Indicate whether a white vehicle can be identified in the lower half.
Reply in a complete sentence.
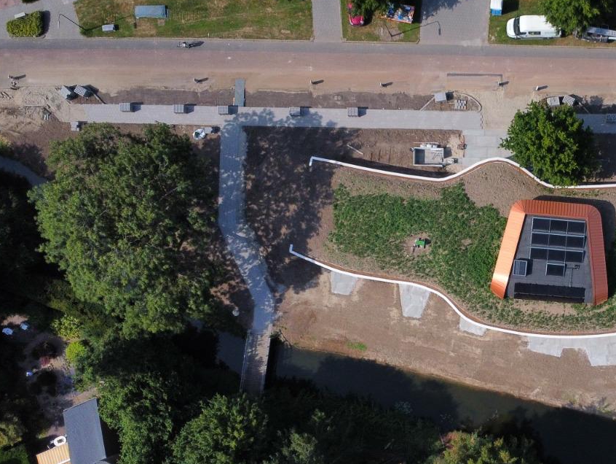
No, no white vehicle can be made out in the lower half.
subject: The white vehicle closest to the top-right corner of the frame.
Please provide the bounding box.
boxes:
[507,14,565,41]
